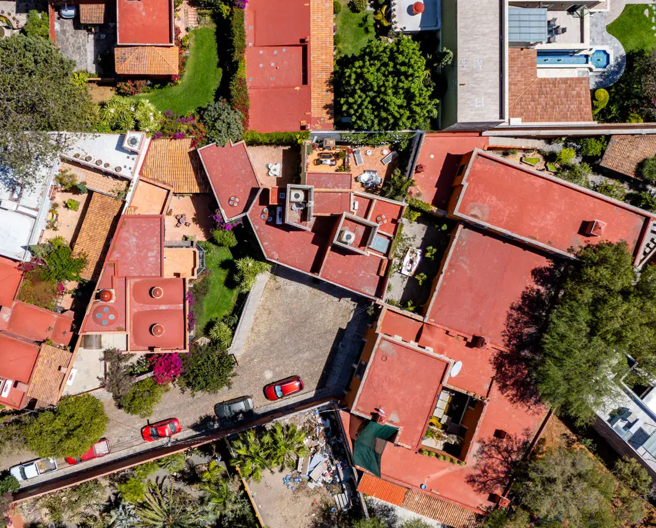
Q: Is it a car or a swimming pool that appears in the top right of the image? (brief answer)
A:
swimming pool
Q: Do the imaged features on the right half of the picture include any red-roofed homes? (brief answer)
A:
Yes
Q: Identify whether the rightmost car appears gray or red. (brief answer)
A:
red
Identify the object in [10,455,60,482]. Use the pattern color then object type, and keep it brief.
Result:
white truck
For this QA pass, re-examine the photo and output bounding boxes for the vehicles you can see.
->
[262,375,306,401]
[212,394,256,420]
[10,455,60,482]
[140,417,182,442]
[68,437,115,465]
[59,7,76,30]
